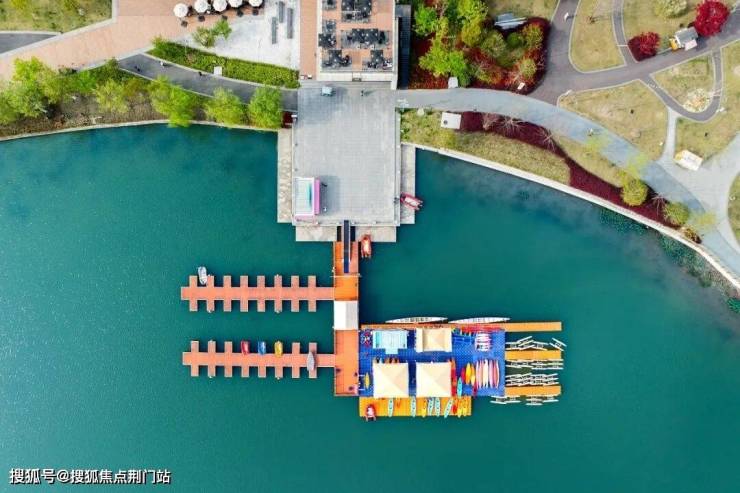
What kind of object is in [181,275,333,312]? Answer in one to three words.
pier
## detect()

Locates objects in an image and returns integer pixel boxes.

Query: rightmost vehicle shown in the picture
[663,28,699,51]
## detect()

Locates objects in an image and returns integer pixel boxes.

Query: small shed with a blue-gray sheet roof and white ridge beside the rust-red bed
[494,12,525,33]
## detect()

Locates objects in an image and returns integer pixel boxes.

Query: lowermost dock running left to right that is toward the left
[182,340,333,377]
